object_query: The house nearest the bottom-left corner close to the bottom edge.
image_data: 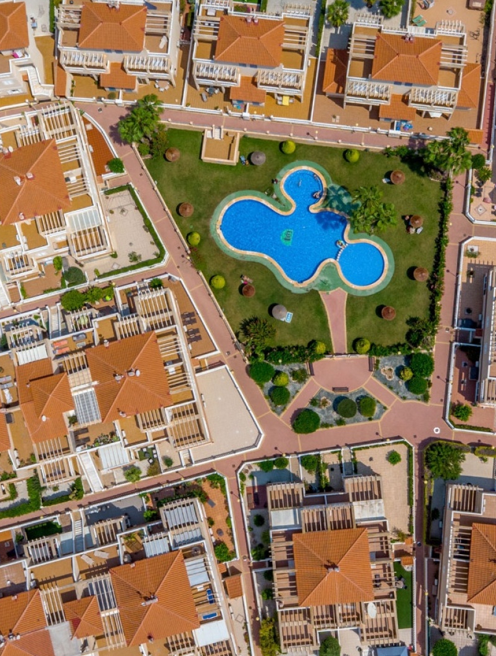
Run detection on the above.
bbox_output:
[0,497,243,656]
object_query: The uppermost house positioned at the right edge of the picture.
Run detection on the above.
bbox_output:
[323,13,482,125]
